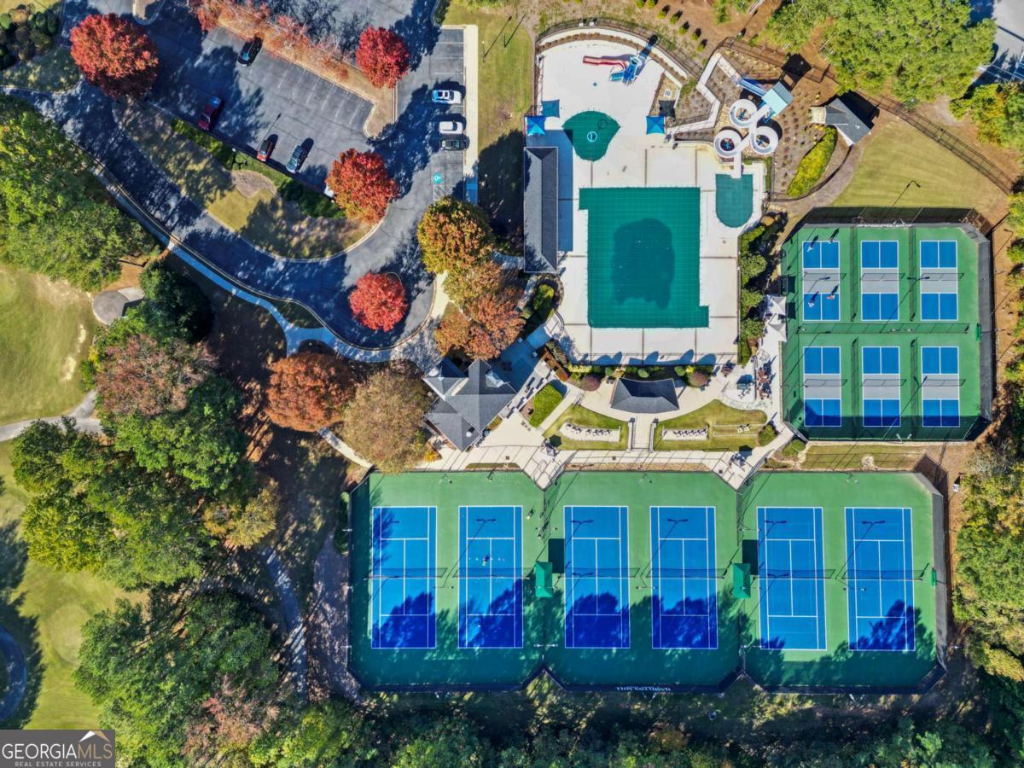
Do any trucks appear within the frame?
No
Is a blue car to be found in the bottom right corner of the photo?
No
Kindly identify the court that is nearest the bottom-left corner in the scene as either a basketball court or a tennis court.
tennis court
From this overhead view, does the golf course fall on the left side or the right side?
left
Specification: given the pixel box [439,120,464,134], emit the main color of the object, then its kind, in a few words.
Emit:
white car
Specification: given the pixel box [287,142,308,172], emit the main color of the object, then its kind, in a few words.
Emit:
blue car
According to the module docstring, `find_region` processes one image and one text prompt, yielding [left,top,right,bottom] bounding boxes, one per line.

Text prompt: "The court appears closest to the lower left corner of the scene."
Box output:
[364,507,442,649]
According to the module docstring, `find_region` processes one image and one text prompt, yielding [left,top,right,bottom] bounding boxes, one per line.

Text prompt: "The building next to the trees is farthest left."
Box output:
[423,355,517,450]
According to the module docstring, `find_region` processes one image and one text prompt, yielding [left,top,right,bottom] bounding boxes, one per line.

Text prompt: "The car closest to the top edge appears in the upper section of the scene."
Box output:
[240,37,261,66]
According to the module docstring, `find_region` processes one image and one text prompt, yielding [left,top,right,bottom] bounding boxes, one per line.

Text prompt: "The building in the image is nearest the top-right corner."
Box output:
[809,98,870,148]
